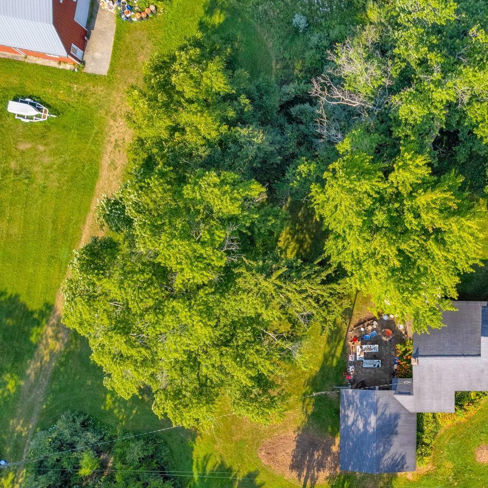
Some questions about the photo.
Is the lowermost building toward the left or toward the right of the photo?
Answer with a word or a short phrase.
right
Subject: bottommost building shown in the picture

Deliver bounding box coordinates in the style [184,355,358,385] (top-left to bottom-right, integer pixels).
[327,385,417,473]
